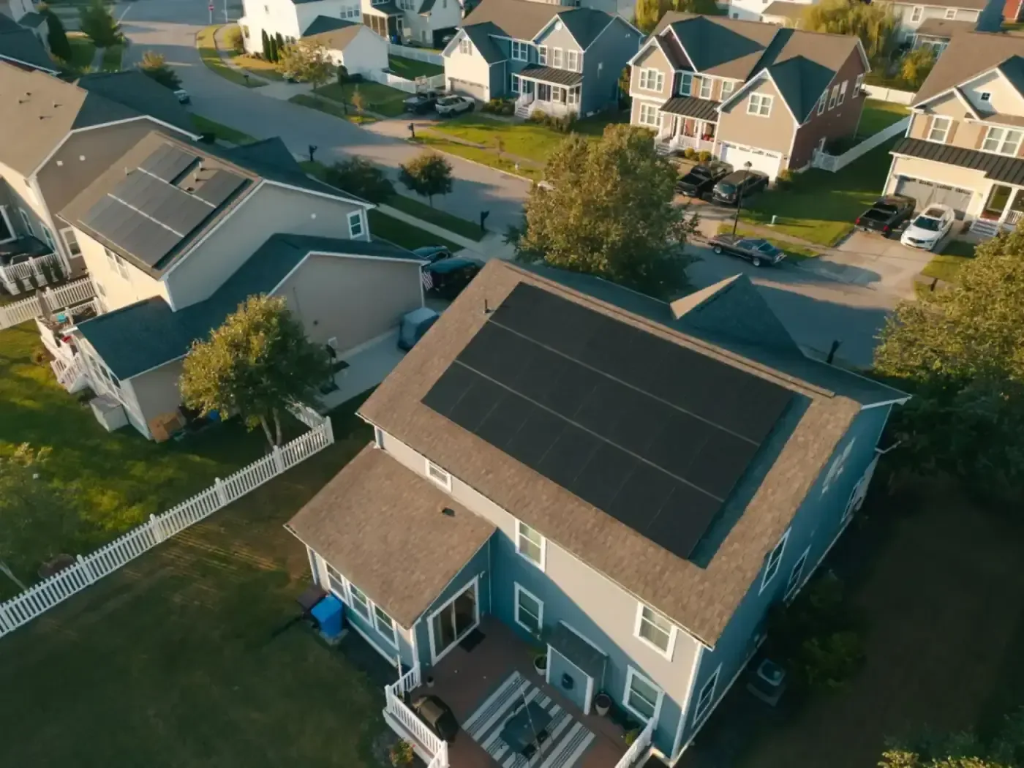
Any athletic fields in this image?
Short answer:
No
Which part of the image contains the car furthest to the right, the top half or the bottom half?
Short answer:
top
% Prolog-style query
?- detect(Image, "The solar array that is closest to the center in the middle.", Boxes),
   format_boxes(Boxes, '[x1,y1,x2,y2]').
[420,283,793,558]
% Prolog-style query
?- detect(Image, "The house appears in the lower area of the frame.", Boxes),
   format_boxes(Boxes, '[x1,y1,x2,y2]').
[282,262,906,764]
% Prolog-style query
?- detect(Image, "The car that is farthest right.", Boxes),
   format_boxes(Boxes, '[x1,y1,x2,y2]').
[903,213,952,248]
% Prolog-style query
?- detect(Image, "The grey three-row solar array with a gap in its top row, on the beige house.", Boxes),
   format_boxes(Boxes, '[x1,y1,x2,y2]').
[77,142,245,264]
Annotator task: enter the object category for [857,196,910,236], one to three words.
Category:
truck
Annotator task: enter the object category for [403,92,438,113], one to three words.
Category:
car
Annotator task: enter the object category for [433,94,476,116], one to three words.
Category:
car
